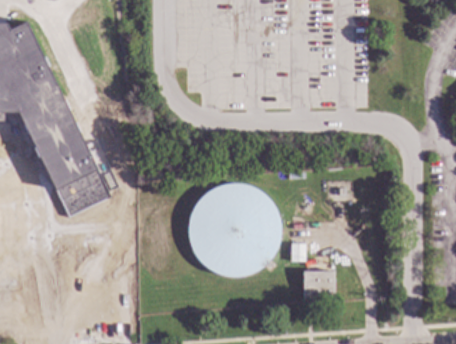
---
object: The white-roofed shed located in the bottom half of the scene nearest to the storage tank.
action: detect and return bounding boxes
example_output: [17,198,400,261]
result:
[291,242,308,264]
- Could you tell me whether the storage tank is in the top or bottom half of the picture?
bottom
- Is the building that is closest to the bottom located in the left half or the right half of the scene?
right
